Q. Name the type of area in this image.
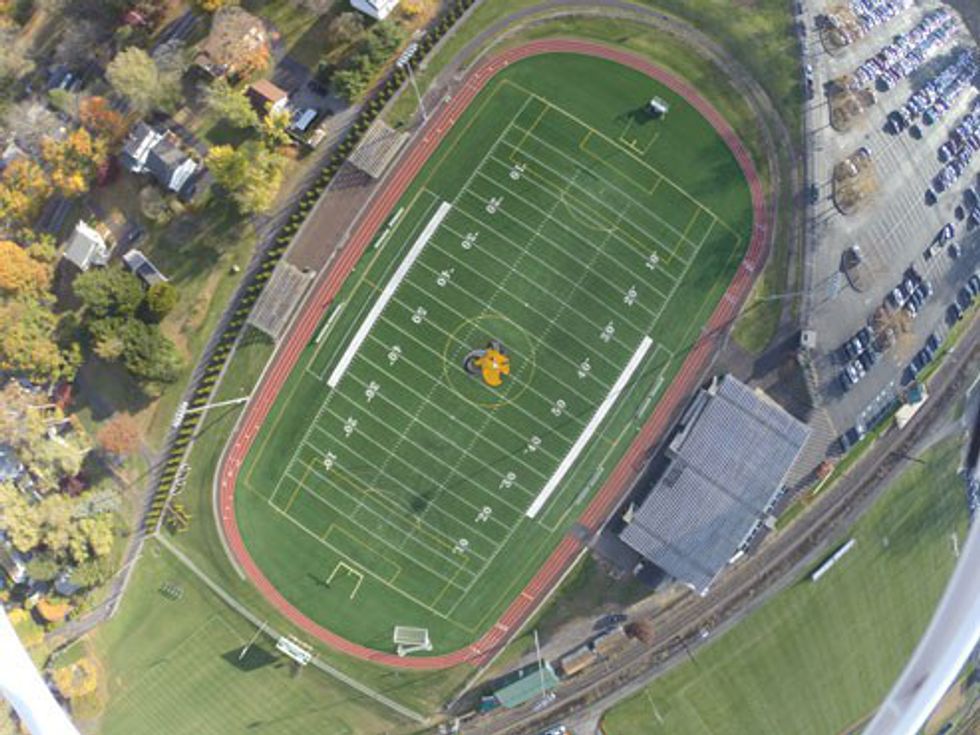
sports ground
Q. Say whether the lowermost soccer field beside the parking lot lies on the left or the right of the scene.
right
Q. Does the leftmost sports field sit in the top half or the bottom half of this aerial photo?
bottom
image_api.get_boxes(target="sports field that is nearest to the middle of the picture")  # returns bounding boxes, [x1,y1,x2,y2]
[234,52,752,657]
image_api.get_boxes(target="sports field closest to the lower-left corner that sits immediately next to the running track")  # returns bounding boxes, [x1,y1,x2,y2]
[98,617,334,735]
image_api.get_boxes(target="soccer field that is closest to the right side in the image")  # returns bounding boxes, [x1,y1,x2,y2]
[653,481,980,735]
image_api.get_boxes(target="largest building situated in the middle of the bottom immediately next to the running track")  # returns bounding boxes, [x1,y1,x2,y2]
[496,656,559,710]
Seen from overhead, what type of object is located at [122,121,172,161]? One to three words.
house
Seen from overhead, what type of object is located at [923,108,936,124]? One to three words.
vehicle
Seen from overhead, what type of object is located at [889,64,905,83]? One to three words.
car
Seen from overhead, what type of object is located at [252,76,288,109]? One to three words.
building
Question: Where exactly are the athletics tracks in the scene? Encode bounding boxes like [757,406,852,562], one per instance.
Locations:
[220,36,768,670]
